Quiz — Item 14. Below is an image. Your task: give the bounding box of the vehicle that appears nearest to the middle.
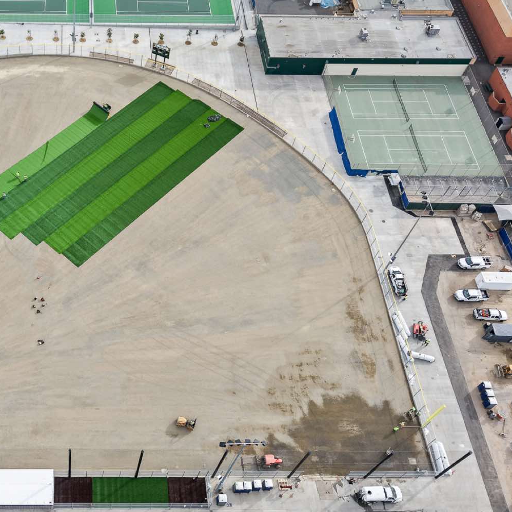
[388,268,411,297]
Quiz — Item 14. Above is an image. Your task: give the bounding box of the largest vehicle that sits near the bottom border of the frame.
[348,486,404,505]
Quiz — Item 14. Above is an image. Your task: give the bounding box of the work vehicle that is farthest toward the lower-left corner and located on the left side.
[173,417,200,434]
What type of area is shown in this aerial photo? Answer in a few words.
sports ground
